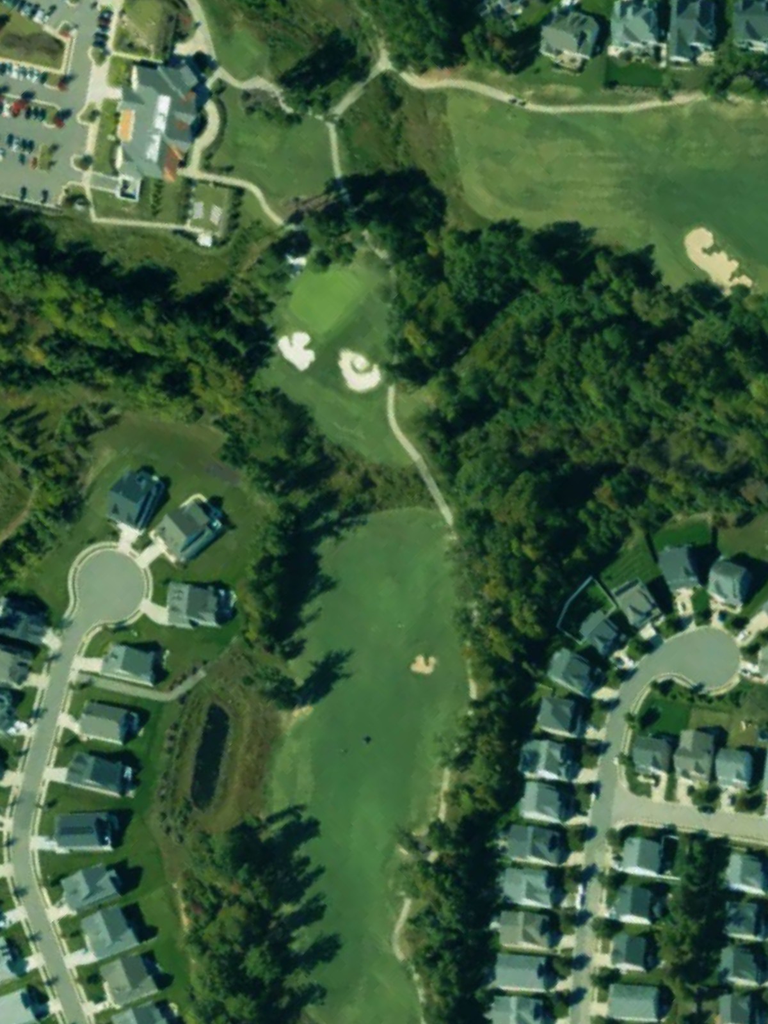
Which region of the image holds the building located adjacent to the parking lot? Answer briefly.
top left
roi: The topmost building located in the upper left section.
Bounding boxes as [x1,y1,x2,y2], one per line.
[108,60,209,187]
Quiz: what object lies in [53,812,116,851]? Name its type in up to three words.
house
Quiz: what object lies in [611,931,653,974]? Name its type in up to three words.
house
